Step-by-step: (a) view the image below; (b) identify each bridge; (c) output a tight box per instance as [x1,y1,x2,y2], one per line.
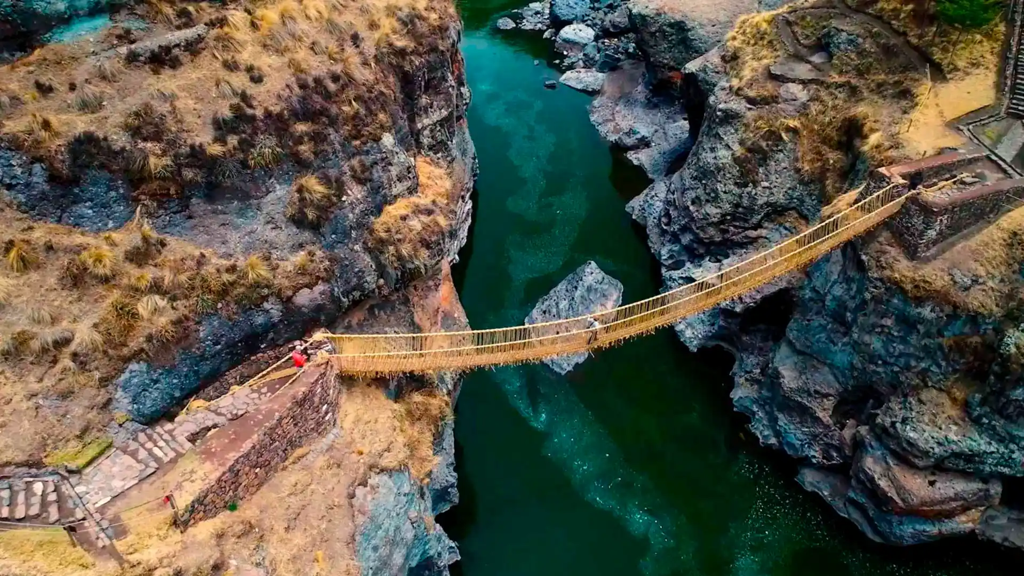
[309,176,921,383]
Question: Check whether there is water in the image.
Yes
